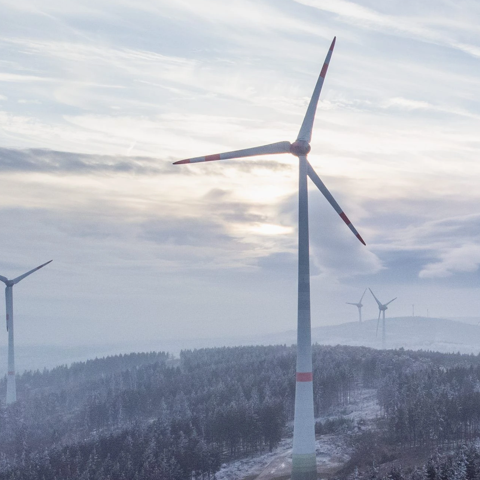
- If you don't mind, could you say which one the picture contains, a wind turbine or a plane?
wind turbine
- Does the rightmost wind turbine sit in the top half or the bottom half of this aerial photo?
bottom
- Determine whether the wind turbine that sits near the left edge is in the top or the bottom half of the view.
bottom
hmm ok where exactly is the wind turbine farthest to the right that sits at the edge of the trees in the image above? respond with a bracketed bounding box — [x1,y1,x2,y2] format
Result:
[371,291,396,357]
